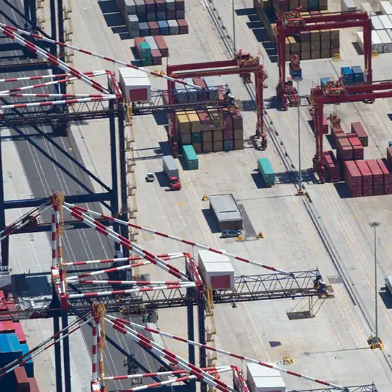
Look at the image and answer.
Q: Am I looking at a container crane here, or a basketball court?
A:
container crane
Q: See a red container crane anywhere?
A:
Yes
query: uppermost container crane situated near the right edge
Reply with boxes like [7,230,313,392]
[271,3,373,108]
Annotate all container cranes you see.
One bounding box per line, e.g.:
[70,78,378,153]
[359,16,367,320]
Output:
[0,24,243,298]
[271,3,373,108]
[0,301,378,392]
[0,190,334,392]
[163,44,269,156]
[309,72,392,182]
[0,0,82,138]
